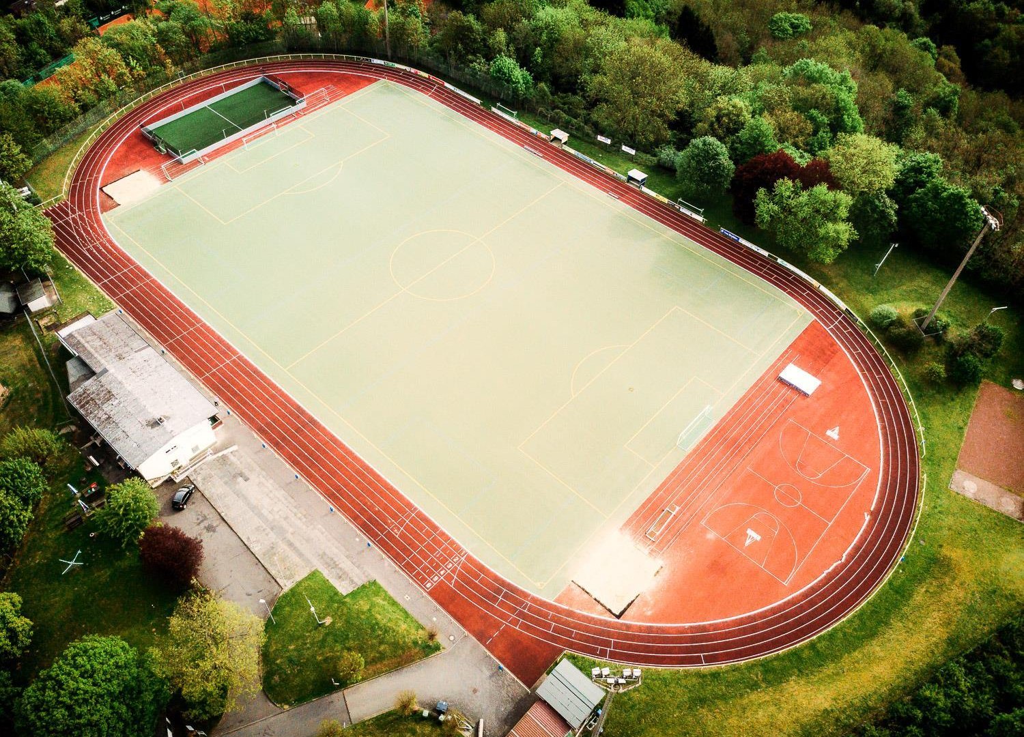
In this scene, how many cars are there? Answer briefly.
1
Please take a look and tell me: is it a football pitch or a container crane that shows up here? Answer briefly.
football pitch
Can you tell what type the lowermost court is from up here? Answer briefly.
basketball court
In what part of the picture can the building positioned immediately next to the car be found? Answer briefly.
left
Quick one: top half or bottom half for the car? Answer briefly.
bottom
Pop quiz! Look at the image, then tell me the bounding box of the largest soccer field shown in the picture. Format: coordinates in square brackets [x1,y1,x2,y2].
[103,79,816,597]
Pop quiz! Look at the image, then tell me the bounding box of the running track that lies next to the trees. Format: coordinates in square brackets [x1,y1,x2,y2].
[40,59,917,691]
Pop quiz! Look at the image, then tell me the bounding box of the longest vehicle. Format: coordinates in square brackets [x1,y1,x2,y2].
[166,480,196,510]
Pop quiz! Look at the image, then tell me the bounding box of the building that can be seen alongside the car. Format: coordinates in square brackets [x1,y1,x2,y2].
[46,304,233,483]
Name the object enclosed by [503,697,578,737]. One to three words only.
shed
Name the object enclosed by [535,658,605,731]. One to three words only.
shed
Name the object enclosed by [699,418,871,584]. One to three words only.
basketball court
